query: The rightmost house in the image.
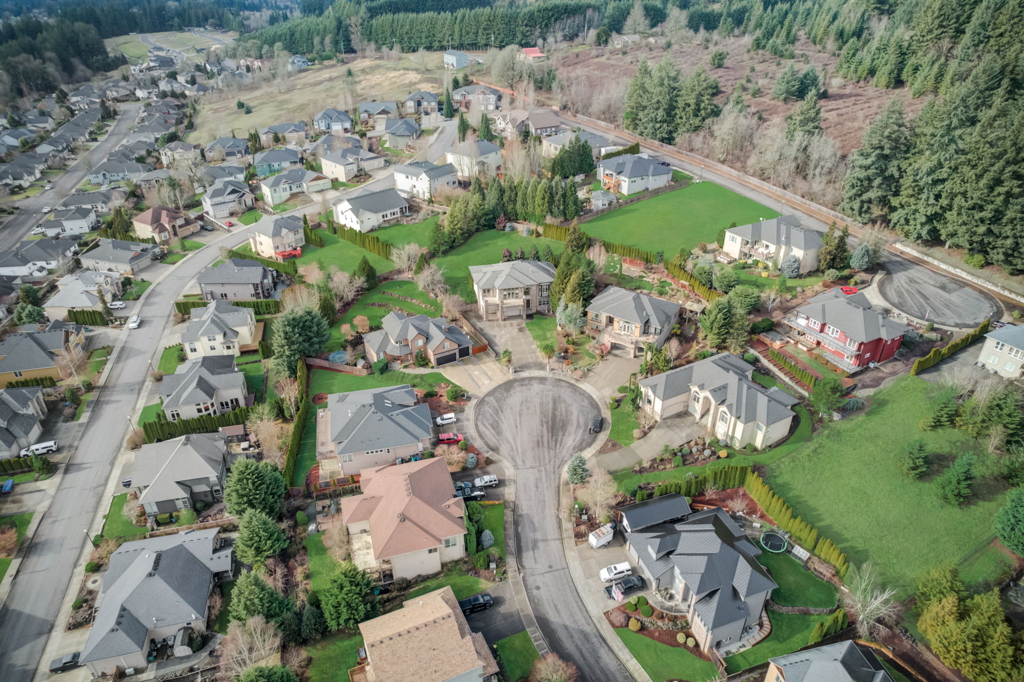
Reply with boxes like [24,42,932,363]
[978,318,1024,381]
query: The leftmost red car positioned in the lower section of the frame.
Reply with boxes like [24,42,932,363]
[438,429,464,443]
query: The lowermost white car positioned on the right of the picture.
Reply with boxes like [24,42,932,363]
[599,559,634,581]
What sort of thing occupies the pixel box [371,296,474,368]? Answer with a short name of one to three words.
house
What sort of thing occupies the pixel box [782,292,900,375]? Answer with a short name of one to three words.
house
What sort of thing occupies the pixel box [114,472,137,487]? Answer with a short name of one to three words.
car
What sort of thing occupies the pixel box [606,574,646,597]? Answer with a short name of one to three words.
truck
